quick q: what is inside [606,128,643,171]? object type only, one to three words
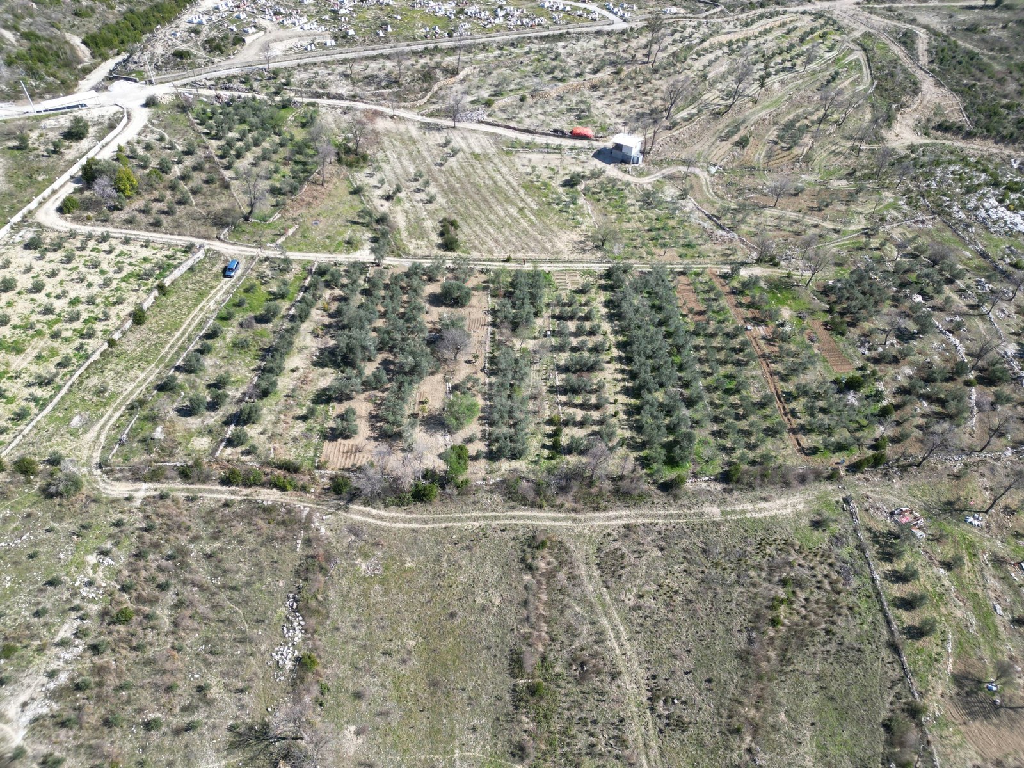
shed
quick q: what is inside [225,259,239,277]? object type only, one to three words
vehicle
